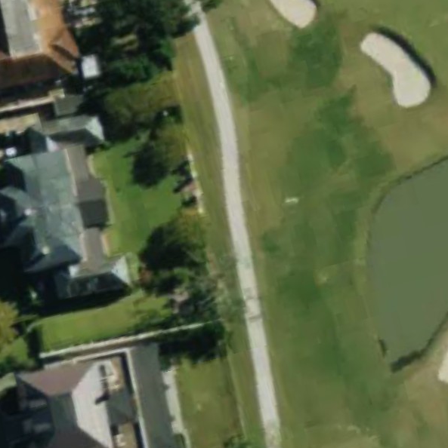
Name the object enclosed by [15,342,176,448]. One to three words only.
house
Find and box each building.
[0,116,132,299]
[15,342,176,448]
[0,0,79,92]
[54,93,84,116]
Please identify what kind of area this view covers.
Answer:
golf course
